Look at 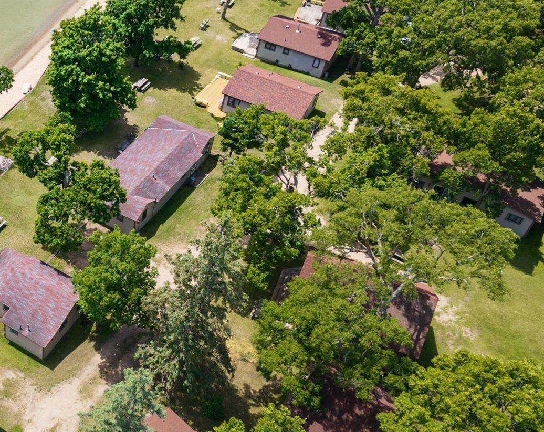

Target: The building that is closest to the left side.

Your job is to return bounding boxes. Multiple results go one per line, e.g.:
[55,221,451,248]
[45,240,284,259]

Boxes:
[0,246,95,357]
